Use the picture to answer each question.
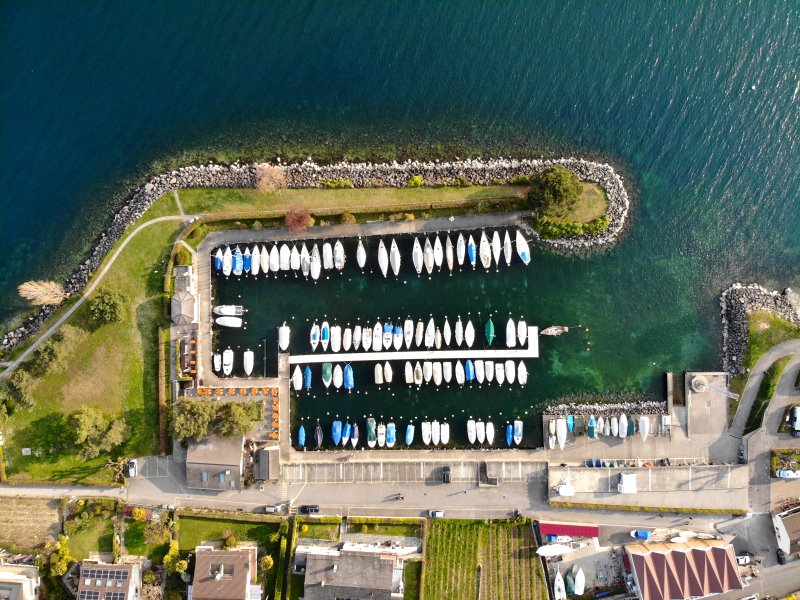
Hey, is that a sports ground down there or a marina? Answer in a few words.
marina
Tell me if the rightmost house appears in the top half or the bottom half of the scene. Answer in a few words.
bottom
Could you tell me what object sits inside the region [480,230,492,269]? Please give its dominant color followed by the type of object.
white boat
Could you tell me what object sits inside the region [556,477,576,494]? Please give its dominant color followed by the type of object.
white vehicle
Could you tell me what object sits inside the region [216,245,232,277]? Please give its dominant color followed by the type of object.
white boat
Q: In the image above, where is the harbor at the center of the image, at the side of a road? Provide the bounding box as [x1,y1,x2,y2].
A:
[197,211,738,465]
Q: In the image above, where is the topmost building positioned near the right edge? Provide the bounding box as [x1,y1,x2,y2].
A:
[772,504,800,555]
